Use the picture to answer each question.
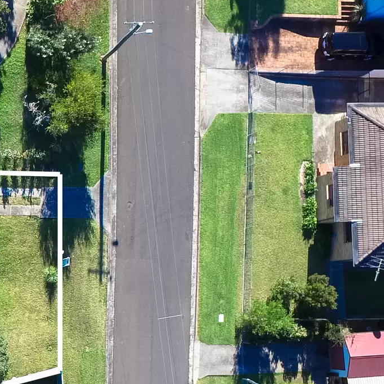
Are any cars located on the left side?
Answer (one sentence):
No, I see no car on the left side.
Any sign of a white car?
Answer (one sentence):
No, I can't see a single white car in this photo.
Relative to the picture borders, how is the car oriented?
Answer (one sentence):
The car runs horizontally in the image.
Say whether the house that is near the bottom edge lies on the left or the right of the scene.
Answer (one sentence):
You can find the house that is near the bottom edge on the right side of the picture.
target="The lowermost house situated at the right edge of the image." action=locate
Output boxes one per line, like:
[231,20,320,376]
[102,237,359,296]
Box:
[317,331,384,379]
